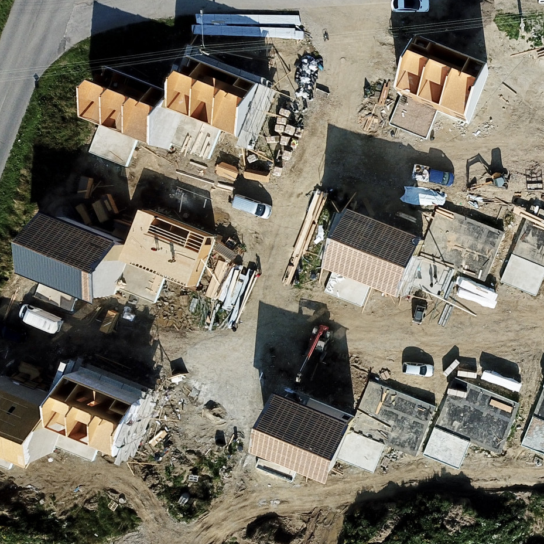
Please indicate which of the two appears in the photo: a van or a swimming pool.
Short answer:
van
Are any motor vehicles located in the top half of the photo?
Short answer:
Yes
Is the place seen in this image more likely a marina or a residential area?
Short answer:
residential area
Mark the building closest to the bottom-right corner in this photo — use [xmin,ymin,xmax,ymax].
[246,396,348,486]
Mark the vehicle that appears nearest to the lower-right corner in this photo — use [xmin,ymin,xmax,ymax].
[401,362,435,379]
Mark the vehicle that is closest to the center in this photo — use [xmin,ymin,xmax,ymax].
[231,192,274,220]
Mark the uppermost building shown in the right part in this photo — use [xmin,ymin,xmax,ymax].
[393,37,484,121]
